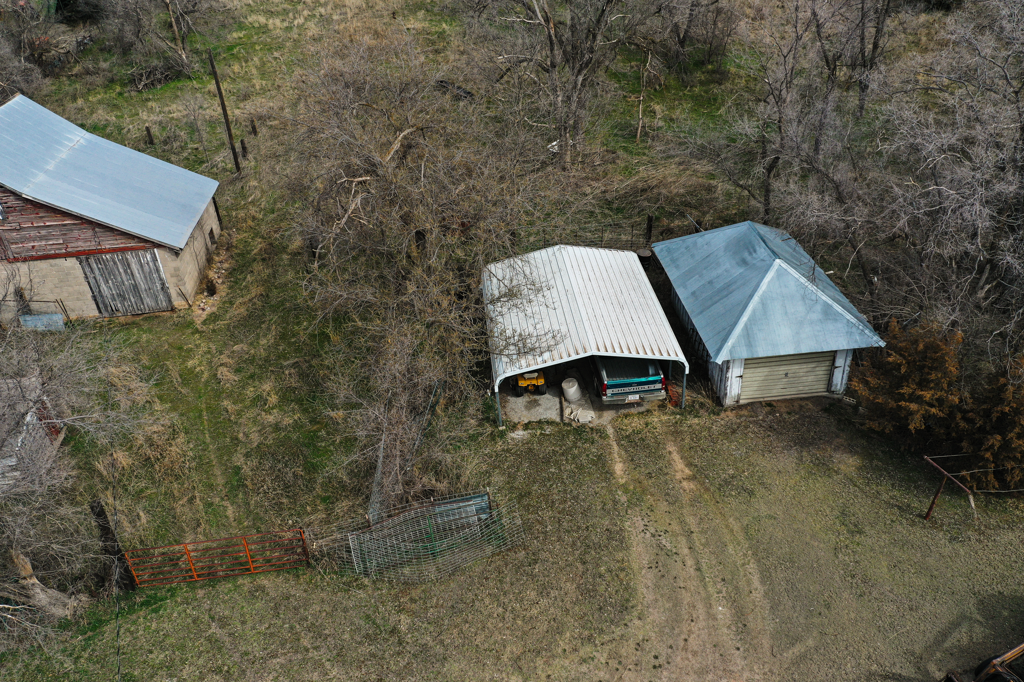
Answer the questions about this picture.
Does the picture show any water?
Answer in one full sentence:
No, there's no water in this view.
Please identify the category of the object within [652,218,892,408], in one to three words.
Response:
building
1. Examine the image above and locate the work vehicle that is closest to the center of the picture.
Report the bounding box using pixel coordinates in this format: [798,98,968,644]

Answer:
[514,370,547,397]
